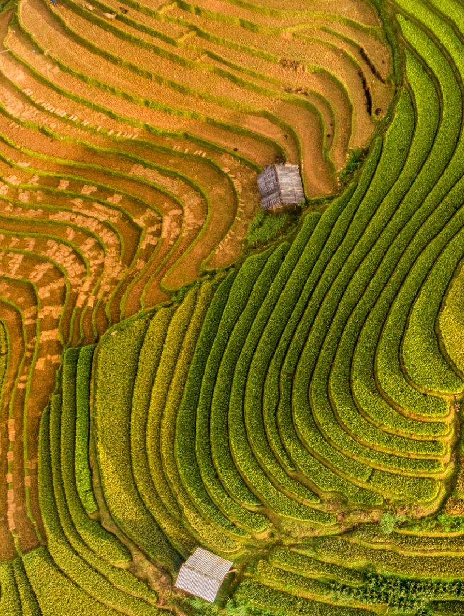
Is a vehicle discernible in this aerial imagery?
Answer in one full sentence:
No, there is no vehicle in the image.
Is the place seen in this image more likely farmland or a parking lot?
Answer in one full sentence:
This image shows farmland.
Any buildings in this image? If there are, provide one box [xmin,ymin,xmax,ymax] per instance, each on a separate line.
[178,547,230,602]
[258,166,309,212]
